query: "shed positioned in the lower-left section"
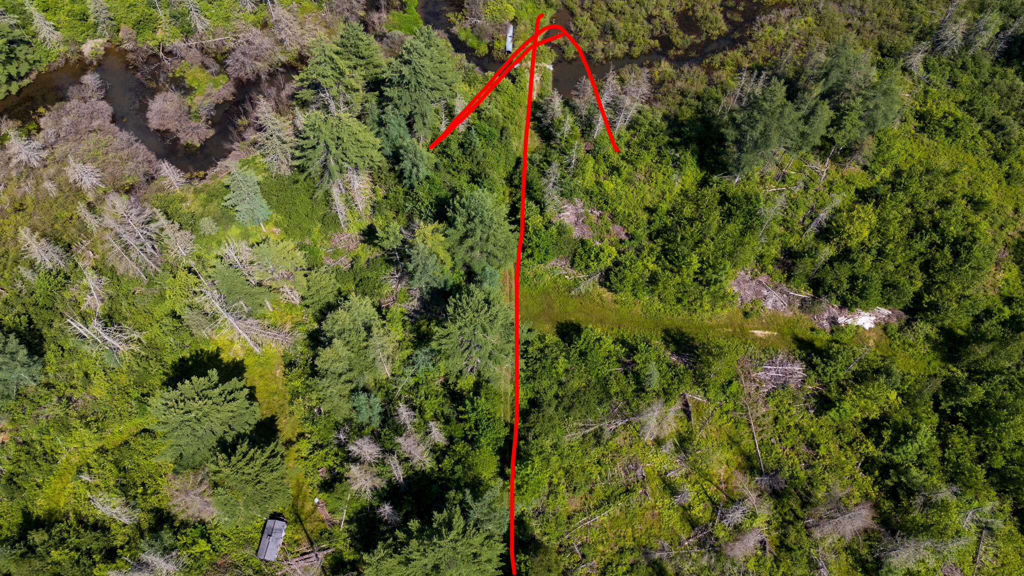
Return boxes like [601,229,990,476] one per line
[256,519,288,560]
